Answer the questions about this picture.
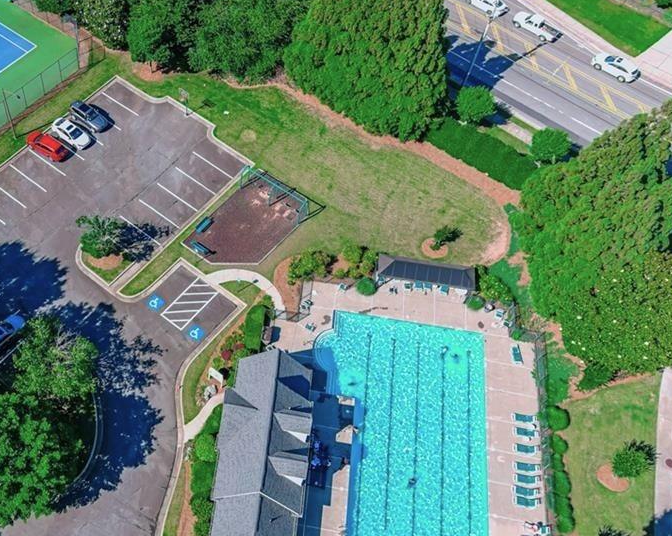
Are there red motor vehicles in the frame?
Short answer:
Yes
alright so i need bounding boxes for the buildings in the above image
[207,347,316,536]
[376,253,475,302]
